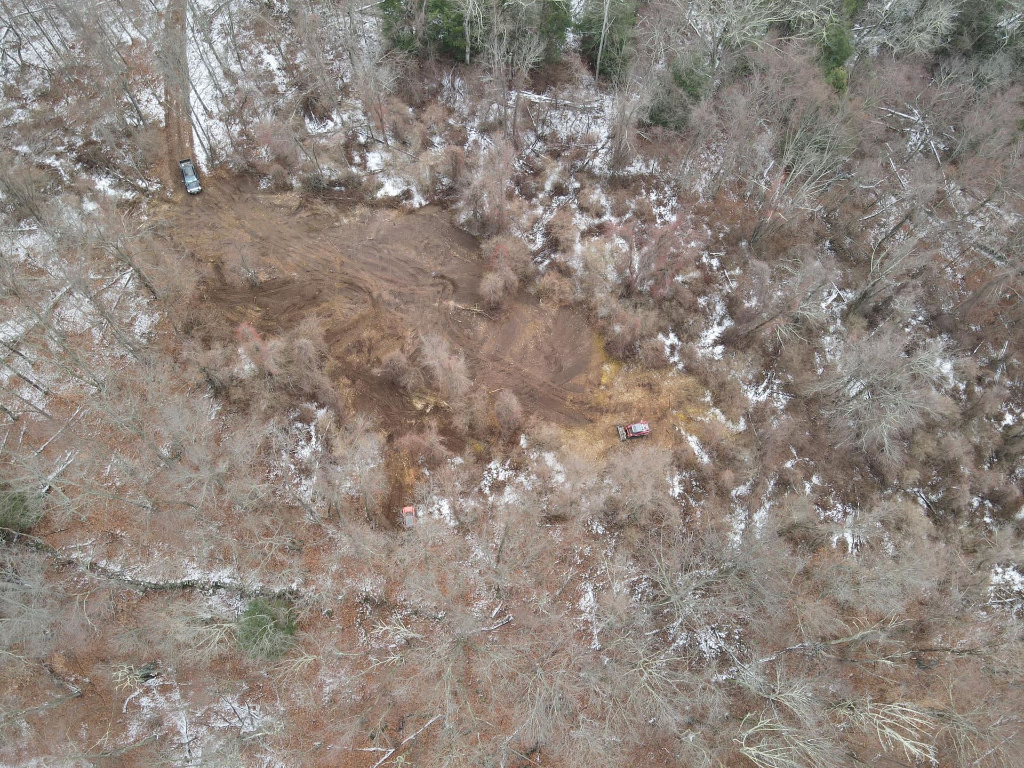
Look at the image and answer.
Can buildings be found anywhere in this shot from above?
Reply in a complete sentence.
No, there appears to be no building in this shot.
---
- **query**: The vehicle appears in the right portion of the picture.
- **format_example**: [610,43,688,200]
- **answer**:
[616,421,649,443]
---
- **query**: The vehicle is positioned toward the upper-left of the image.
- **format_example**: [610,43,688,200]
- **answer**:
[176,155,202,196]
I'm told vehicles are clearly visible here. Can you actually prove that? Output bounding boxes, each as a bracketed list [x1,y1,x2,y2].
[616,421,649,443]
[401,504,418,528]
[176,155,202,196]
